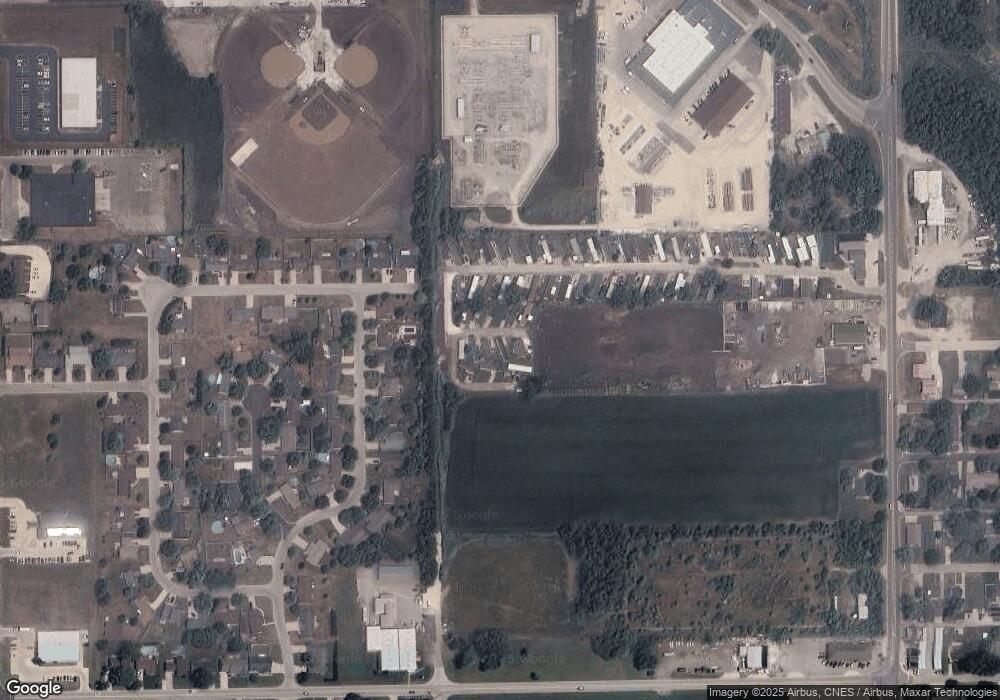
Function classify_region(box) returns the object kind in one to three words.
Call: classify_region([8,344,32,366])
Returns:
house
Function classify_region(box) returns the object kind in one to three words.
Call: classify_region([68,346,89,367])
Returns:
house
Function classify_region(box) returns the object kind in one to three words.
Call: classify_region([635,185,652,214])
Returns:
shed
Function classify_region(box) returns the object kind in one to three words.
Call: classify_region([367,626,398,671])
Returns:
building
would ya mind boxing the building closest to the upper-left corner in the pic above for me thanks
[62,58,97,127]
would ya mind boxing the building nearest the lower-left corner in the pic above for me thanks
[37,632,79,664]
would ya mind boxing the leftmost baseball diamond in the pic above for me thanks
[221,6,309,127]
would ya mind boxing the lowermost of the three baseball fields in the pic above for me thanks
[237,85,403,226]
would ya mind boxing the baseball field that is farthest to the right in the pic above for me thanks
[331,9,416,125]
